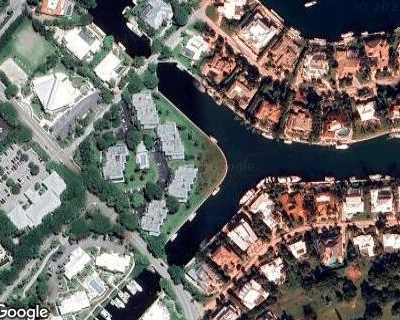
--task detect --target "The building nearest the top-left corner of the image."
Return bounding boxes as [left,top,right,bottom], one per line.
[42,0,70,23]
